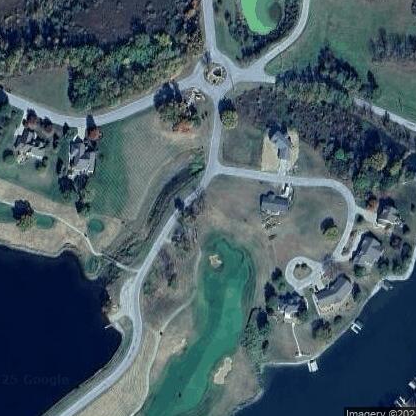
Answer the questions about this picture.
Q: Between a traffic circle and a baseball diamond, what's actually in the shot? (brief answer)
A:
traffic circle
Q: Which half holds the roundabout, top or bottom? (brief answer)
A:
top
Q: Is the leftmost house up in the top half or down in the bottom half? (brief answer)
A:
top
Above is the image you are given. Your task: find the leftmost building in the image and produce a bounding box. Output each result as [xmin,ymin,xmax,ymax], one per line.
[17,127,46,159]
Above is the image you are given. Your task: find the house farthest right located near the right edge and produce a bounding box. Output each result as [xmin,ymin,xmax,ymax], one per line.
[378,205,404,234]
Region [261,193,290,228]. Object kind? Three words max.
house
